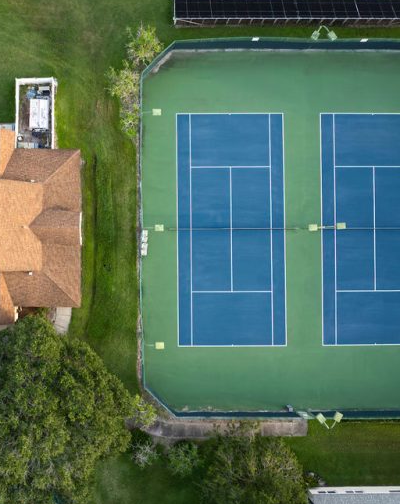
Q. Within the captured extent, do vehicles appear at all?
No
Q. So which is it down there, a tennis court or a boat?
tennis court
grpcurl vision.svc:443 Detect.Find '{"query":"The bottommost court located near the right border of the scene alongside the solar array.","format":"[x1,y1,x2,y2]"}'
[320,113,400,345]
